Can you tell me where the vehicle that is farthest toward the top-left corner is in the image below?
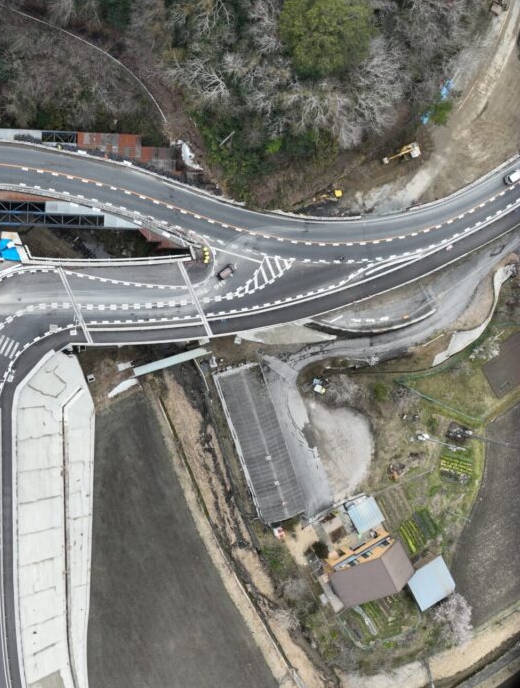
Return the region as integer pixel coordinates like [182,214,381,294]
[217,263,237,280]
